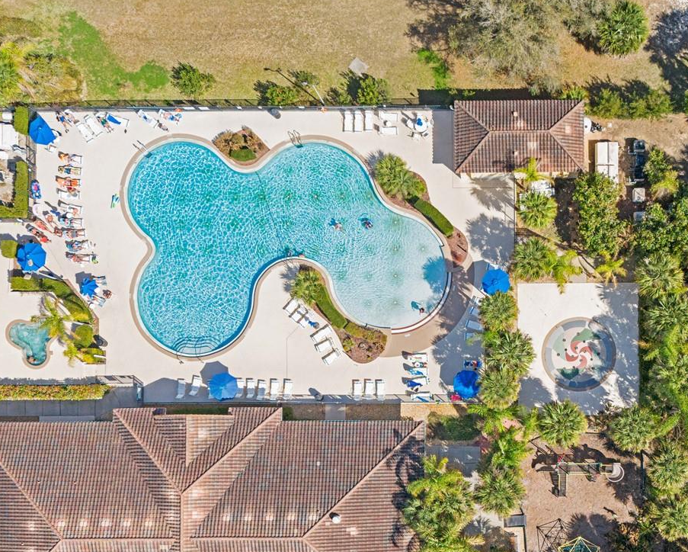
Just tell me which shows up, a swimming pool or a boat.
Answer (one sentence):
It is a swimming pool that can be seen here.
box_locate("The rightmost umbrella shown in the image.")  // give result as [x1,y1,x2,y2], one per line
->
[482,267,509,294]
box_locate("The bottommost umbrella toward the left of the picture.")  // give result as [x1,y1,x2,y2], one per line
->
[208,371,239,401]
